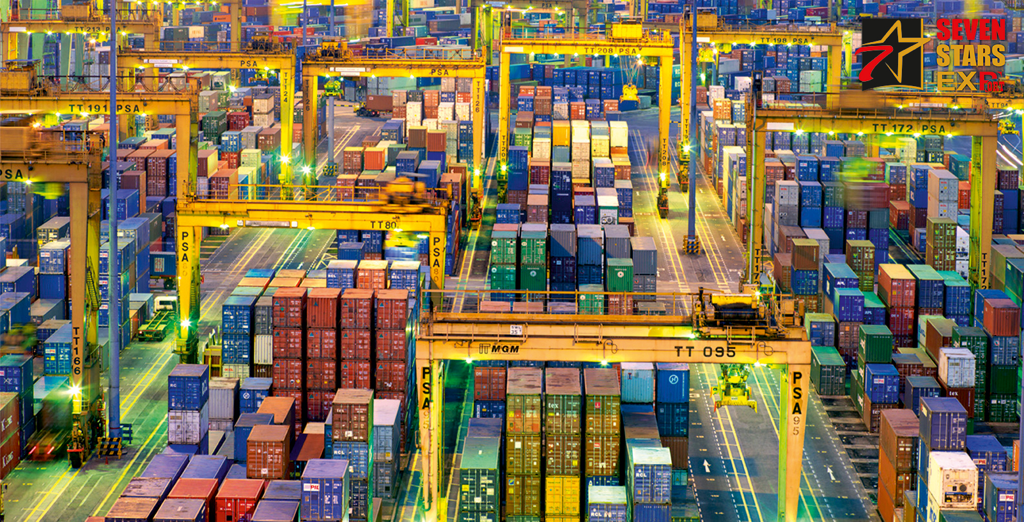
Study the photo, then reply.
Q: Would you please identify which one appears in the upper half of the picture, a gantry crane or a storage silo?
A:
gantry crane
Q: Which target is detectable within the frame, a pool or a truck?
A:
truck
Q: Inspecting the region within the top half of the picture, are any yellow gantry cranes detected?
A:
Yes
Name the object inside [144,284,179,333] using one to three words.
truck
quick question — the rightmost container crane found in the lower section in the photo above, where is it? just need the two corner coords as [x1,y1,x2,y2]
[418,294,820,522]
